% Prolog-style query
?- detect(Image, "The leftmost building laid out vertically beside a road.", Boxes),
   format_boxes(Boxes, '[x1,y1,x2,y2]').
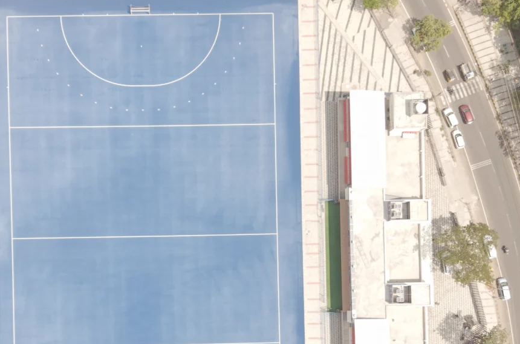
[325,90,432,344]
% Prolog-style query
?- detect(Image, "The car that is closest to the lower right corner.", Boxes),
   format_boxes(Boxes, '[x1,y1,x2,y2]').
[498,277,513,301]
